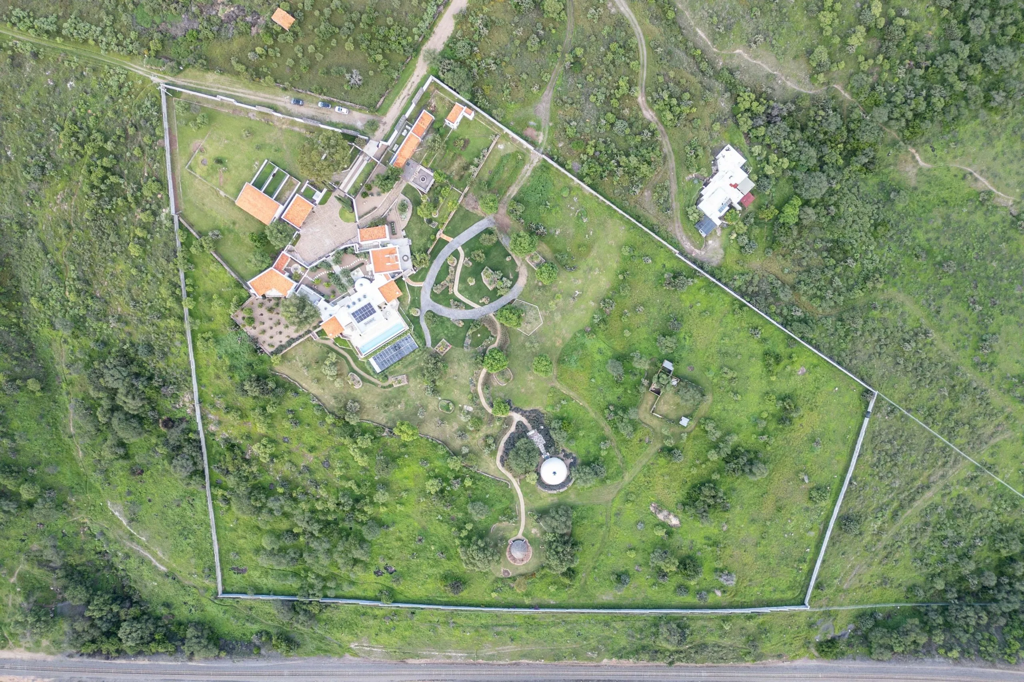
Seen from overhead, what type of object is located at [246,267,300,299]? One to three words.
house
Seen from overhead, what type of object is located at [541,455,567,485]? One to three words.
shed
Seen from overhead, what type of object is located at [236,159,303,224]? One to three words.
barn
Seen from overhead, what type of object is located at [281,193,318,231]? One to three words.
building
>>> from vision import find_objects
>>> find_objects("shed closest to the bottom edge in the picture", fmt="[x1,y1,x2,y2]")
[506,539,532,565]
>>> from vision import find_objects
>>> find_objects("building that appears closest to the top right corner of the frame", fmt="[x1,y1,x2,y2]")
[693,144,755,238]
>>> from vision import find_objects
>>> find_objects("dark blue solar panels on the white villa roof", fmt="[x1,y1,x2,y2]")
[351,302,377,323]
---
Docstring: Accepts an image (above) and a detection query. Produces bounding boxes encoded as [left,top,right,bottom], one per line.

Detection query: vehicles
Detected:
[290,97,303,105]
[335,106,348,113]
[317,101,331,108]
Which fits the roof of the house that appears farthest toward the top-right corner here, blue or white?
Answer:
white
